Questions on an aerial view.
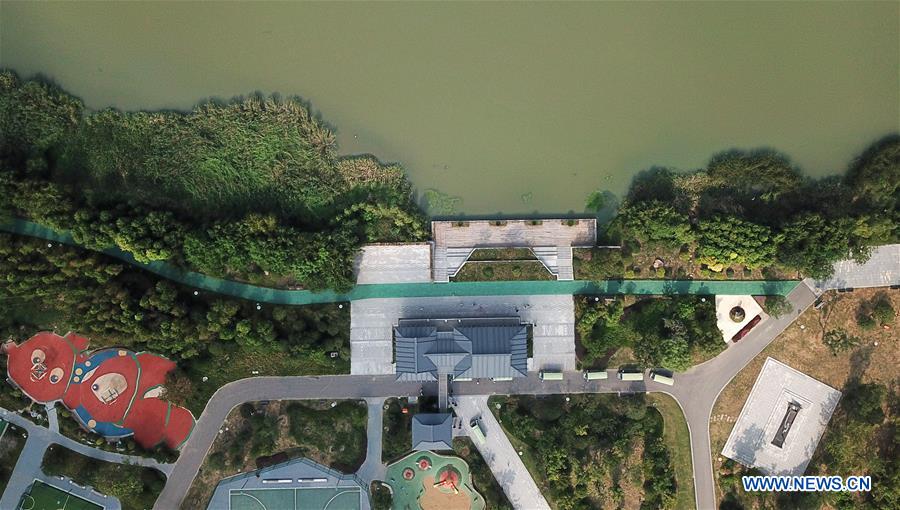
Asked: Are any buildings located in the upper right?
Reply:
No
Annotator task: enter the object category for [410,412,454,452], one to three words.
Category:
building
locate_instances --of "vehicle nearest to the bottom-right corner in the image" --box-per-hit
[645,372,675,386]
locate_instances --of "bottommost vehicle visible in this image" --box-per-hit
[469,418,487,446]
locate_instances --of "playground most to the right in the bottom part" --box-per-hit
[385,450,488,510]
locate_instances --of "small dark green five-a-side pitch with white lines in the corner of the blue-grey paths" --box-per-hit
[22,478,106,510]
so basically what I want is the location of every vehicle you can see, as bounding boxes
[614,371,643,382]
[536,371,564,381]
[580,370,608,381]
[469,418,487,446]
[645,372,675,386]
[447,373,474,382]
